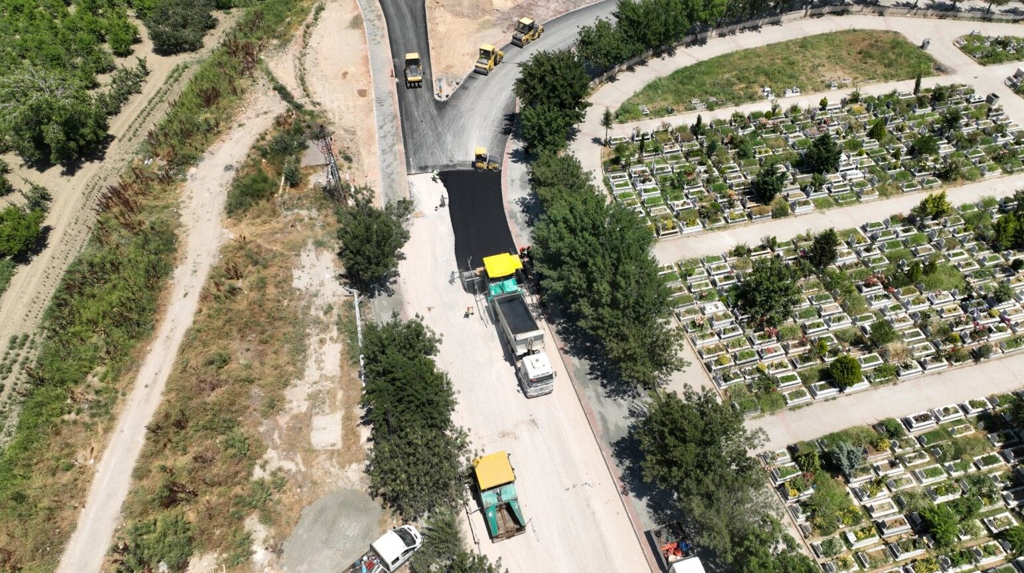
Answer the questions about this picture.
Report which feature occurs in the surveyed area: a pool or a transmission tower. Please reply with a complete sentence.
Visible in the photo is a transmission tower.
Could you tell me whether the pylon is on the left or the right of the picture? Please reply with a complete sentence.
It is on the left.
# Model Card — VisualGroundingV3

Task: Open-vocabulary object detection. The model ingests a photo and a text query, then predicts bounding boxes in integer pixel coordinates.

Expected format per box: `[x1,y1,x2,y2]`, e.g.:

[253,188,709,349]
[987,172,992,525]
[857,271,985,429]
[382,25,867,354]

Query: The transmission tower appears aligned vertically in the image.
[309,122,344,203]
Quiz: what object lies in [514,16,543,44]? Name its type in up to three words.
work vehicle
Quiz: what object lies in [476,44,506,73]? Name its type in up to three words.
work vehicle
